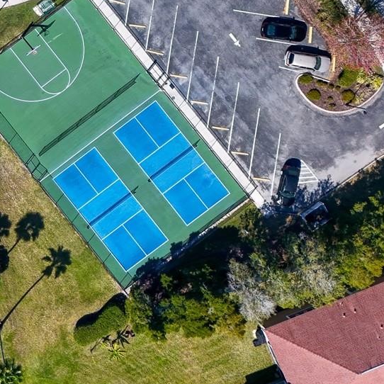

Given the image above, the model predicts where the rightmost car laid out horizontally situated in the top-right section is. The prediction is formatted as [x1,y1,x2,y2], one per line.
[283,51,332,73]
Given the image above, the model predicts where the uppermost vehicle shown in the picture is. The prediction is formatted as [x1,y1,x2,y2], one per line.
[258,19,307,41]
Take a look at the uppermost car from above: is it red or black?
black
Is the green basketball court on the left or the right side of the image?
left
